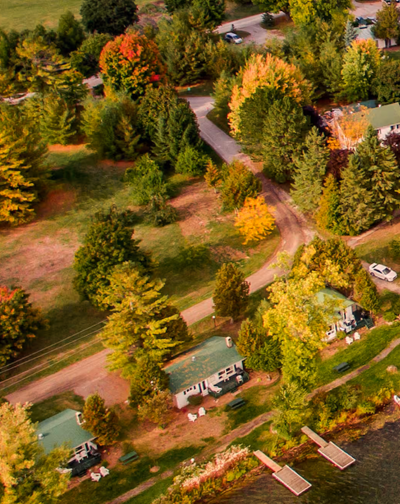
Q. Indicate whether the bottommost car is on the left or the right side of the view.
right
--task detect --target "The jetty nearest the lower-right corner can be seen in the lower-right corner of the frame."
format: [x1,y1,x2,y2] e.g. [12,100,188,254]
[315,437,358,473]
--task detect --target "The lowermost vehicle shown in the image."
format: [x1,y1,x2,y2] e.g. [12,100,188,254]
[364,263,398,284]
